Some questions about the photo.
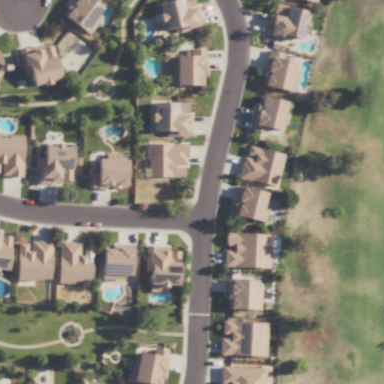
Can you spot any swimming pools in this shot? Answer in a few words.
Yes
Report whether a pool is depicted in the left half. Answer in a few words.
Yes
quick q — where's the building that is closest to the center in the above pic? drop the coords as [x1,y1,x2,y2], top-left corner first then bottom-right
[144,143,190,178]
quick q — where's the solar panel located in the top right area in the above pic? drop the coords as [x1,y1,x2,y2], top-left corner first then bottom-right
[299,10,311,37]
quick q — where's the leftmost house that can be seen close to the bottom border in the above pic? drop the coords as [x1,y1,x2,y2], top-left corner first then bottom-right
[136,352,174,384]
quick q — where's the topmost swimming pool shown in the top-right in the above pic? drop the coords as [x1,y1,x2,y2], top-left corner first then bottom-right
[296,38,318,54]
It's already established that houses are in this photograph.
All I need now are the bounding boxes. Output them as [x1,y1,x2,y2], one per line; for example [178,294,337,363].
[136,352,174,384]
[227,232,273,268]
[0,133,26,176]
[229,279,264,310]
[151,100,195,133]
[60,241,95,283]
[147,246,184,292]
[162,0,210,33]
[180,50,209,86]
[68,0,115,32]
[104,245,138,280]
[40,143,76,184]
[18,240,54,280]
[256,96,292,131]
[144,143,190,178]
[0,228,14,270]
[222,366,273,384]
[274,2,314,40]
[266,52,301,92]
[222,320,270,358]
[239,145,287,188]
[239,188,272,222]
[98,152,132,189]
[24,43,63,82]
